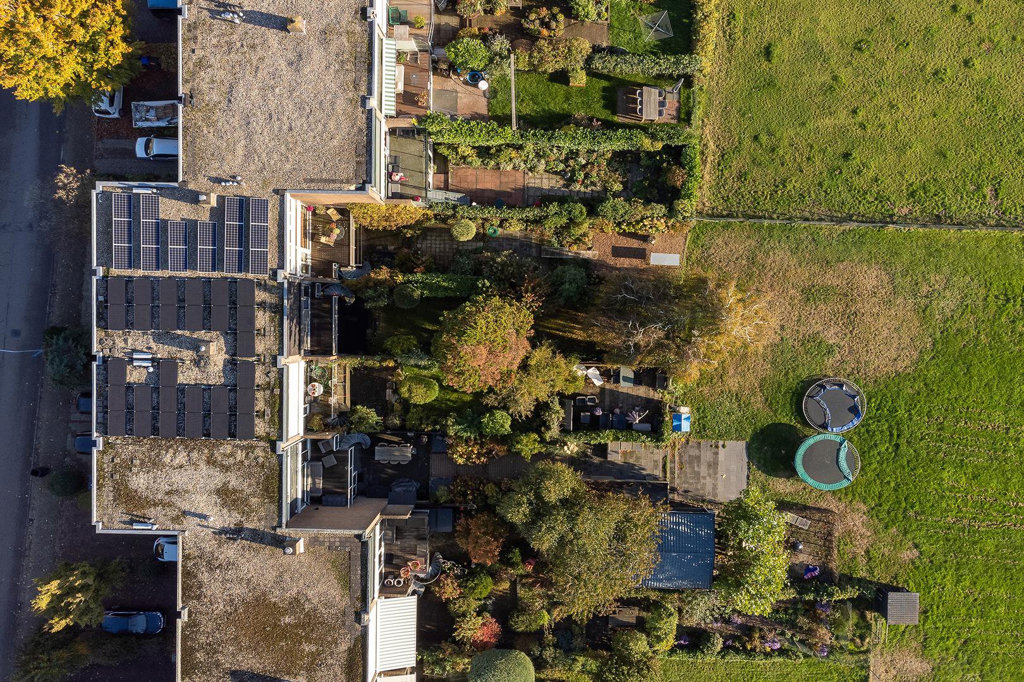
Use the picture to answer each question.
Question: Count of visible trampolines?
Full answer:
In total, there are 2 trampolines in the scene.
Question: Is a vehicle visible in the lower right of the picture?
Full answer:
No, I see no vehicle in the lower right of the picture.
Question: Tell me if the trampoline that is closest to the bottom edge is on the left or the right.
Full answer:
The trampoline that is closest to the bottom edge appears in the right half of the scene.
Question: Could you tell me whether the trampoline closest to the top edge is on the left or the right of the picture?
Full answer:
You can find the trampoline closest to the top edge on the right side of the picture.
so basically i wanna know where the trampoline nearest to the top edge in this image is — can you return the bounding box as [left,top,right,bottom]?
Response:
[802,374,866,435]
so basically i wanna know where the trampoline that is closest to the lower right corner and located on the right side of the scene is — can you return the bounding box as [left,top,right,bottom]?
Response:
[790,428,860,494]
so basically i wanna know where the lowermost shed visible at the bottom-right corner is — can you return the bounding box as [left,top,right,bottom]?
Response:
[877,586,918,625]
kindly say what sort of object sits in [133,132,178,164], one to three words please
car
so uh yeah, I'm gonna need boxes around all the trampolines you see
[802,374,866,435]
[790,428,860,494]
